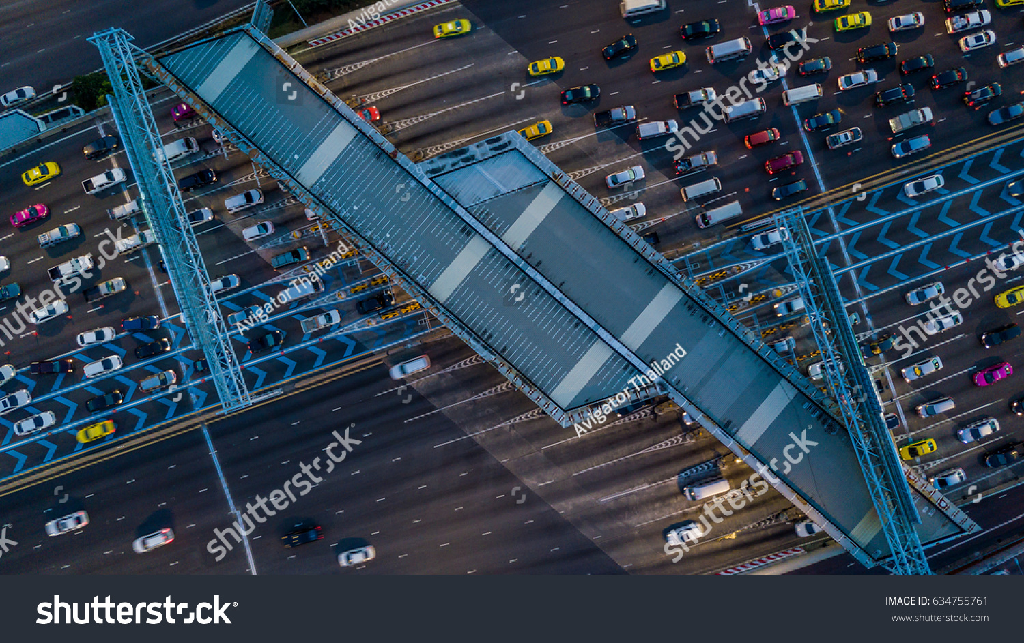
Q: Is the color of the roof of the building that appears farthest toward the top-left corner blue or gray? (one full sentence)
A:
The roof of the building that appears farthest toward the top-left corner is blue.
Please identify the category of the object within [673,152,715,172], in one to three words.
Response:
vehicle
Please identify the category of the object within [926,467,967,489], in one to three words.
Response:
car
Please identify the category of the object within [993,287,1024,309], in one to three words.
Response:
car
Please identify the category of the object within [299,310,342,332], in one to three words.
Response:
truck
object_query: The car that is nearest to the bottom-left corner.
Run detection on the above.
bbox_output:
[48,511,89,535]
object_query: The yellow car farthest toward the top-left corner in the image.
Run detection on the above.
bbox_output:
[21,162,62,185]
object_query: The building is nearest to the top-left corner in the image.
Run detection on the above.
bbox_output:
[0,109,45,153]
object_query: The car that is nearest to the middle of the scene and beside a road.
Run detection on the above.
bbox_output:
[391,356,431,378]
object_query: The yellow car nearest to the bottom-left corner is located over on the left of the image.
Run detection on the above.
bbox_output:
[76,419,118,442]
